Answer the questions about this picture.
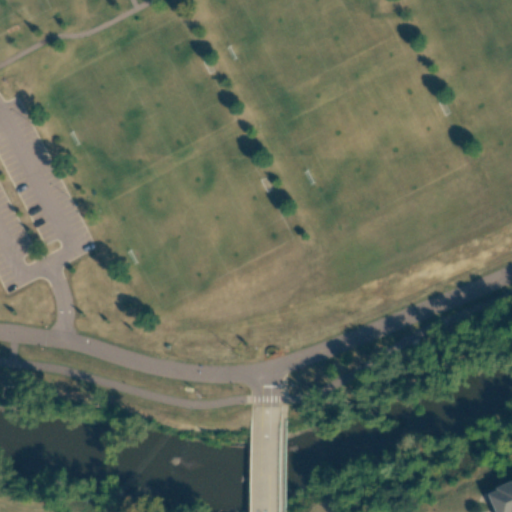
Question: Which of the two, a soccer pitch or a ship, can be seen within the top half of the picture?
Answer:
soccer pitch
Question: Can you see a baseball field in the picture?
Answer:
No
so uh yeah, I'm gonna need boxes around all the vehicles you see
[85,244,96,252]
[29,206,40,214]
[6,284,17,292]
[34,218,45,226]
[17,184,28,192]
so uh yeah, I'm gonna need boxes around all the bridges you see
[250,405,288,512]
